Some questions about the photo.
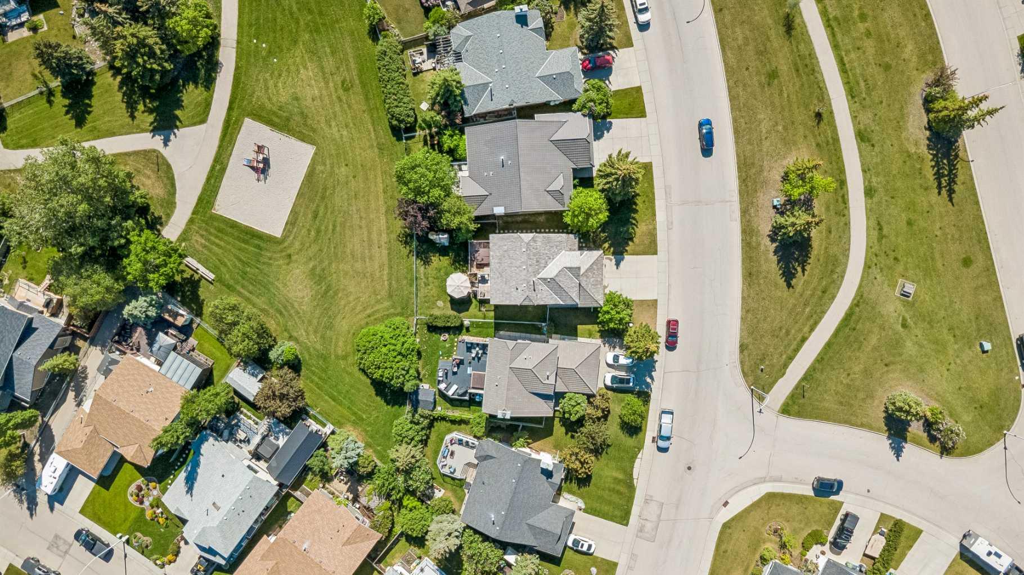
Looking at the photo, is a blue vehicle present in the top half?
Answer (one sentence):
Yes, there is a blue vehicle in the top half.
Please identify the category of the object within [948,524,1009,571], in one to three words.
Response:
trailer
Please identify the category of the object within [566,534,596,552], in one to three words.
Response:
car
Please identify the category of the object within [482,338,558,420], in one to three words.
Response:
house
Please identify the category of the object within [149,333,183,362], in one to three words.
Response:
gazebo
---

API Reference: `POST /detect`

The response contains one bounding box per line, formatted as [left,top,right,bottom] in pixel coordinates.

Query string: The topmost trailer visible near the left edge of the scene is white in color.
[40,453,74,493]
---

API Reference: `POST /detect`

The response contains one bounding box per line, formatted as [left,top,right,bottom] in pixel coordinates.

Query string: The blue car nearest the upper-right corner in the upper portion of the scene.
[697,119,713,150]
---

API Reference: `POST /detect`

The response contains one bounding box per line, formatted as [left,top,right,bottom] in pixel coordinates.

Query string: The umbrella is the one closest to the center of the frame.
[444,272,470,299]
